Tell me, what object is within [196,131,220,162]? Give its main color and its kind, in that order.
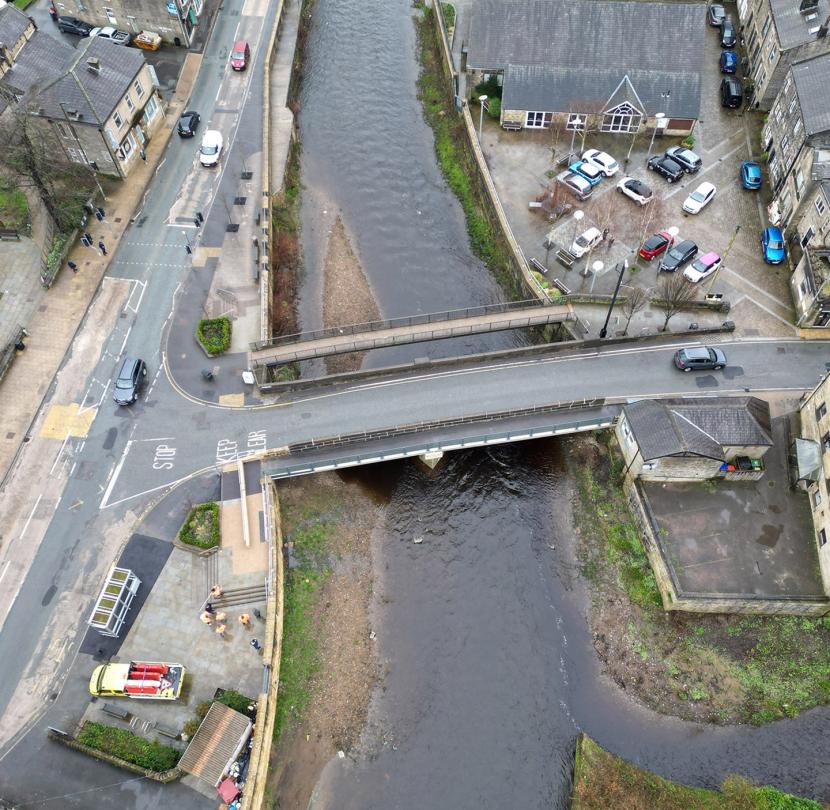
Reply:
white car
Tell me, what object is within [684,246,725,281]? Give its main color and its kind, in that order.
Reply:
white car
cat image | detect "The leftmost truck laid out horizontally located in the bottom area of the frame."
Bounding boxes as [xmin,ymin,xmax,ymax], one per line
[81,656,182,701]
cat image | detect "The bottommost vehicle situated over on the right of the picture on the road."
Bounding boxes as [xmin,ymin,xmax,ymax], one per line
[672,346,734,375]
